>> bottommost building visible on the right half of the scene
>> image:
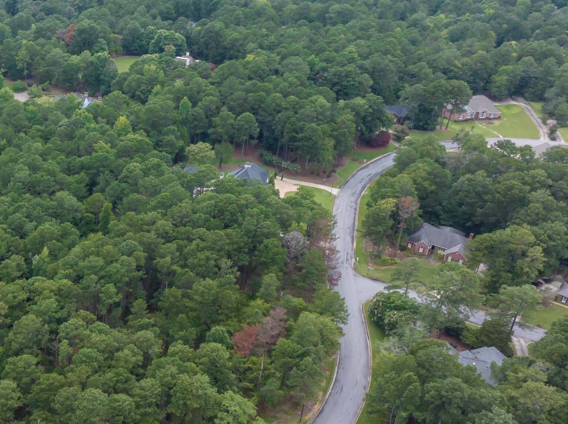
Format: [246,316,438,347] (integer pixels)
[445,342,508,391]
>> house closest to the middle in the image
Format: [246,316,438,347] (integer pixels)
[221,164,270,195]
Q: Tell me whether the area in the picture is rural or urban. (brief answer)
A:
rural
